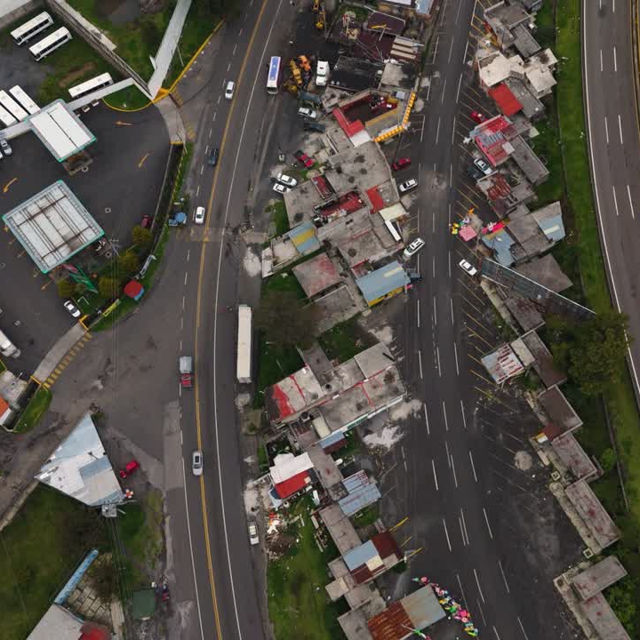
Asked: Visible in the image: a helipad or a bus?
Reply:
bus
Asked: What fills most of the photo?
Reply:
paved ground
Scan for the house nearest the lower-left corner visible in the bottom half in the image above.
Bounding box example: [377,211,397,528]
[31,602,89,640]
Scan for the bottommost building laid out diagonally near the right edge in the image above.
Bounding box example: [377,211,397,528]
[579,590,633,640]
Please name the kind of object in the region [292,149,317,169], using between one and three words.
vehicle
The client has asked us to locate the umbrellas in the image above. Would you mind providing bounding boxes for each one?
[126,489,136,498]
[176,211,188,223]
